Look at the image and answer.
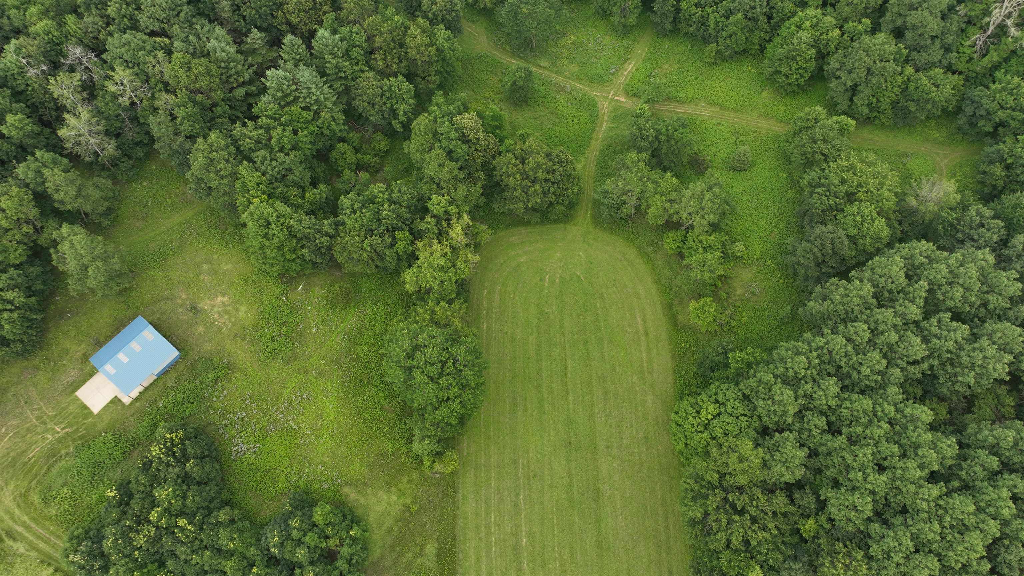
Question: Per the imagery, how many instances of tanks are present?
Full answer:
The photo contains no tanks.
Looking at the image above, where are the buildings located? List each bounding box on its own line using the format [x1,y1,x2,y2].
[90,314,182,397]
